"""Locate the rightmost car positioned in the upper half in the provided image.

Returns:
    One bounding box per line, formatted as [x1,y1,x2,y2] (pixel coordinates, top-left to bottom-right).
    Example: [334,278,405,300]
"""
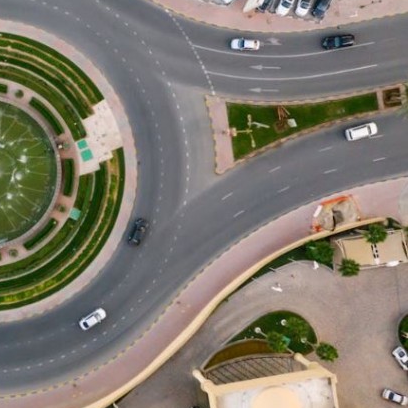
[342,122,377,140]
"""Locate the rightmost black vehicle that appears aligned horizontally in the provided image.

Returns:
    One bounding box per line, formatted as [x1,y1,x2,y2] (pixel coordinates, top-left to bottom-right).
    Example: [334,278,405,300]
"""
[320,34,355,49]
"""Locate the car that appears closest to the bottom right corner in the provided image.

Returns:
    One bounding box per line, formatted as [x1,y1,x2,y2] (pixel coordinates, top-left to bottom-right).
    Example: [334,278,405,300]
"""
[377,385,408,407]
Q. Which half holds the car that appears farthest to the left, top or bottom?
bottom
